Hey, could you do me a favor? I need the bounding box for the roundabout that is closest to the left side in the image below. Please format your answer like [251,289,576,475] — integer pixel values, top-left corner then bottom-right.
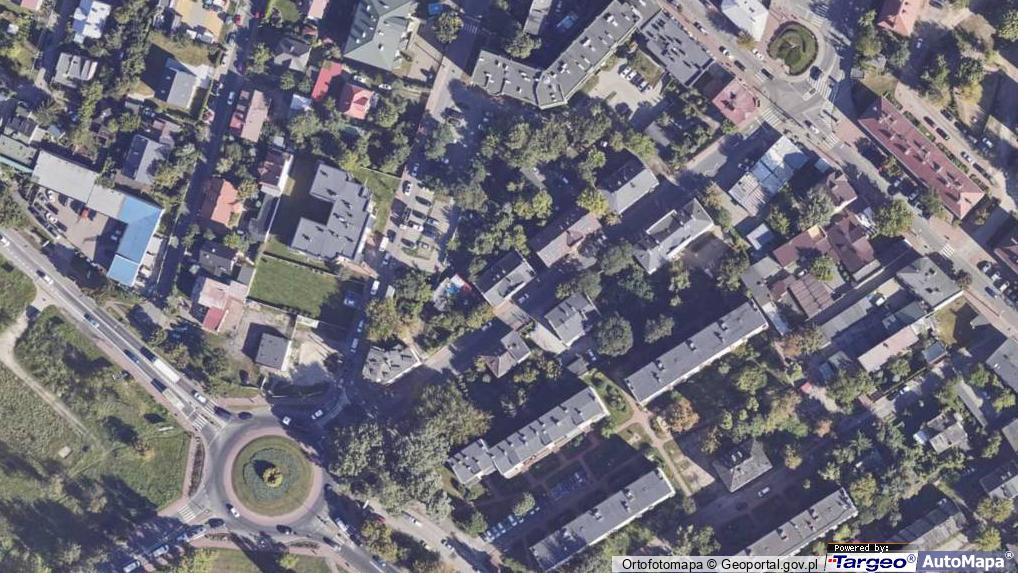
[207,410,336,541]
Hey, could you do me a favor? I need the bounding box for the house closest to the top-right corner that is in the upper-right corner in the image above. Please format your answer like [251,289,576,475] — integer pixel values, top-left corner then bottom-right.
[877,0,922,38]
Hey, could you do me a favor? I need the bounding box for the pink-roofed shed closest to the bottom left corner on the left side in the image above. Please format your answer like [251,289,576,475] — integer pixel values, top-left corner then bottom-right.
[202,308,228,332]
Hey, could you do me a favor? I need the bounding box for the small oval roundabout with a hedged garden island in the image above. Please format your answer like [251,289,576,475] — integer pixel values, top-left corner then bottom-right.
[746,0,838,98]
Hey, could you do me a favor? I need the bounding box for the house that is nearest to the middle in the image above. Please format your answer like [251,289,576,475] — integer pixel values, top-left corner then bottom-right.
[474,252,537,307]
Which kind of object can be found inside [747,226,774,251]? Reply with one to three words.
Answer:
shed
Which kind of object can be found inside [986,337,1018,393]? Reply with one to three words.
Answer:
building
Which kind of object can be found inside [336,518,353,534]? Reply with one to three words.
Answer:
vehicle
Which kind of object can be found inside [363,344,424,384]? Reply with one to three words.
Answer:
house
